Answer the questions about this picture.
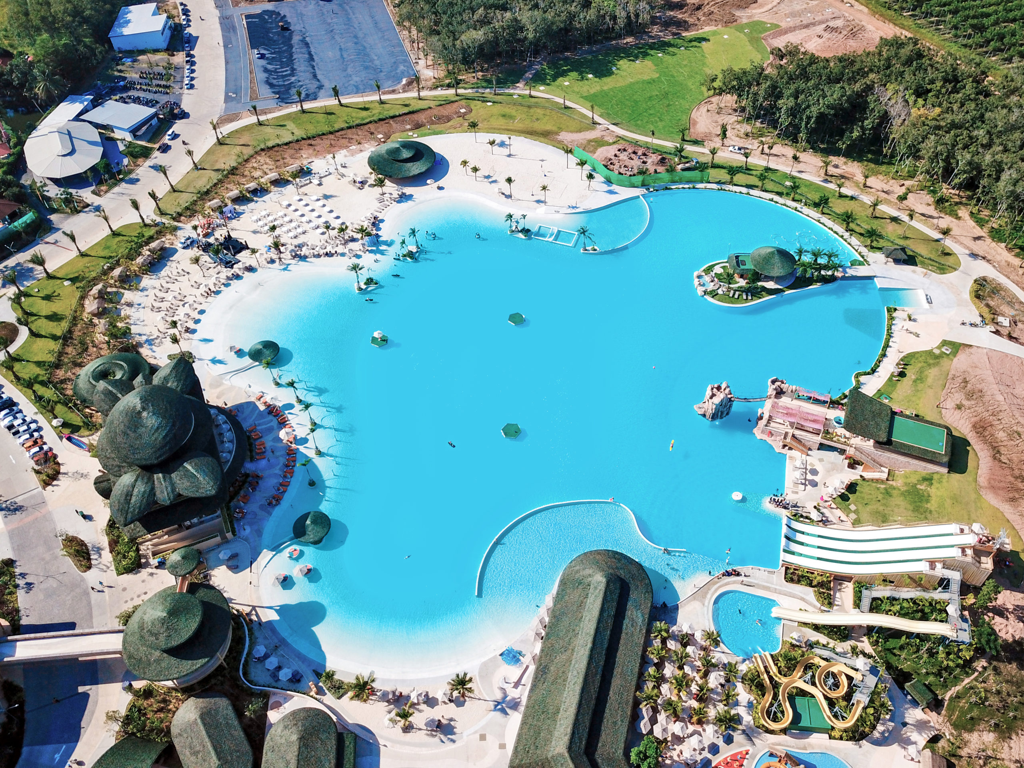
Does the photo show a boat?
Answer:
Yes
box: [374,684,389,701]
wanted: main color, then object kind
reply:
white umbrella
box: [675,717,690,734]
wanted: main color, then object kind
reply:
white umbrella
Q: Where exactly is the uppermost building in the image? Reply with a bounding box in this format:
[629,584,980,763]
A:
[108,3,171,49]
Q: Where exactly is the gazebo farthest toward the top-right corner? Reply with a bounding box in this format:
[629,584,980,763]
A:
[881,247,908,266]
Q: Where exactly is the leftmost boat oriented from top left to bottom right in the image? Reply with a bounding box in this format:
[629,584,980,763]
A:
[55,426,90,451]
